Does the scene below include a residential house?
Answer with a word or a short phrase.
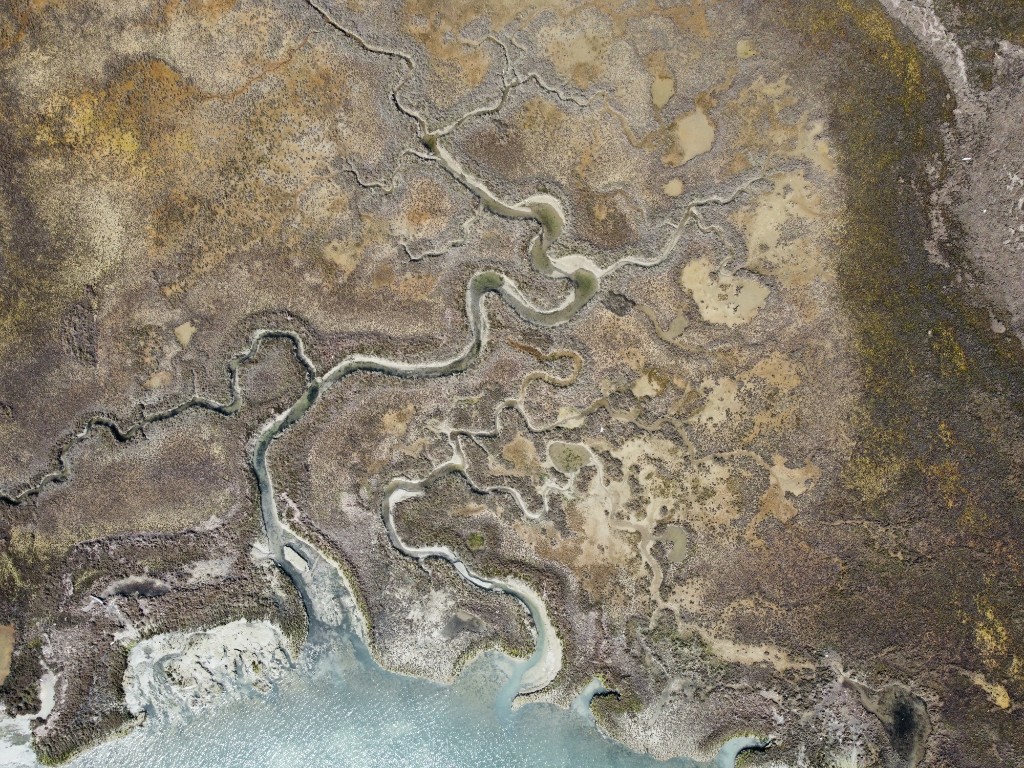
No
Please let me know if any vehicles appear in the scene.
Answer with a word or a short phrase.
No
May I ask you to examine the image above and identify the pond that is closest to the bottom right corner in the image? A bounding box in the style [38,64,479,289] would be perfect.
[870,680,929,768]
